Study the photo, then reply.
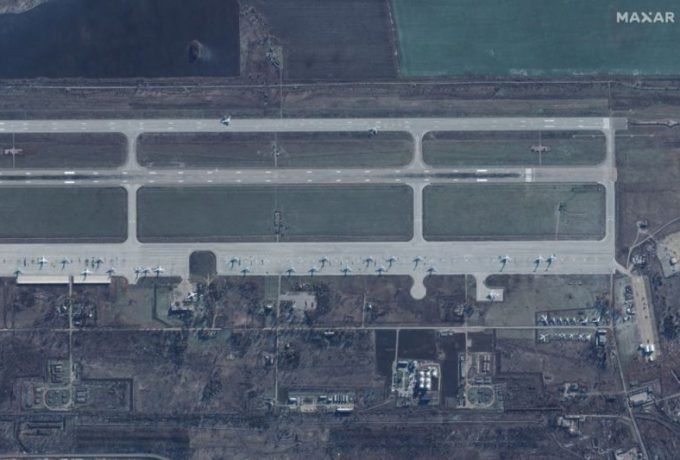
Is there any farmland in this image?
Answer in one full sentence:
Yes, the picture does contain farmland.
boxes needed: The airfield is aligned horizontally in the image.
[0,117,633,311]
